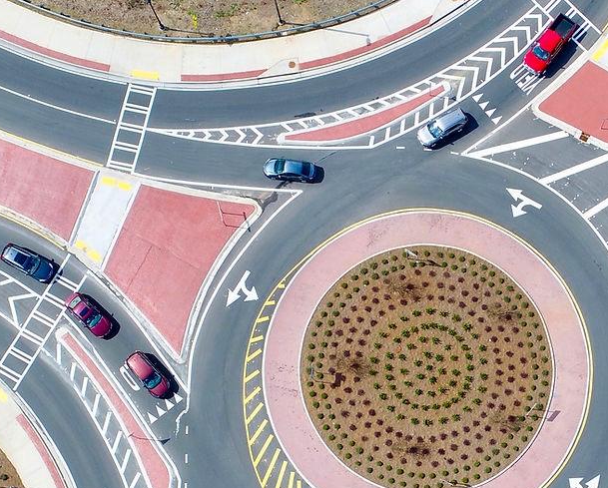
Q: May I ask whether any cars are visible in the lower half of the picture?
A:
Yes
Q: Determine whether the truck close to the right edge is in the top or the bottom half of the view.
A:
top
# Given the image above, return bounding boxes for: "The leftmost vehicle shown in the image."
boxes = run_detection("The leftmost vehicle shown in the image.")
[0,242,51,281]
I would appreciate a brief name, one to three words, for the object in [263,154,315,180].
car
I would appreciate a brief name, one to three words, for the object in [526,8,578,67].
truck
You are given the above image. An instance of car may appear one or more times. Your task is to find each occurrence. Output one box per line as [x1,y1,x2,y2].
[416,106,467,143]
[263,154,315,180]
[121,352,167,399]
[59,294,109,339]
[0,242,51,281]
